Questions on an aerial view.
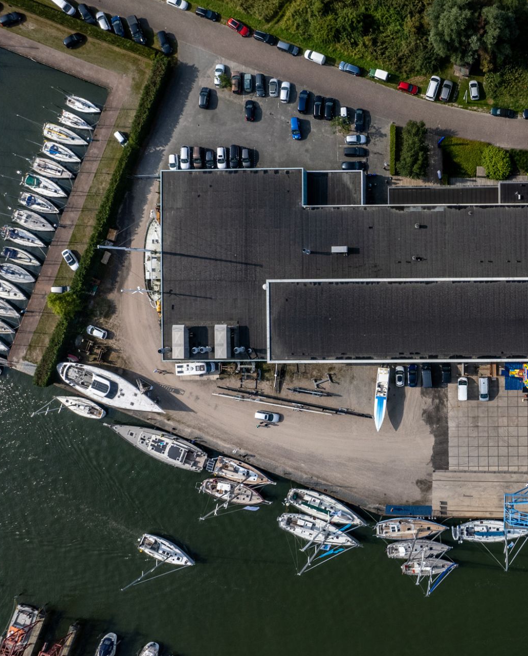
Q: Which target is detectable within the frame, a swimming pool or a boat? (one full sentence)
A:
This aerial view contains a boat.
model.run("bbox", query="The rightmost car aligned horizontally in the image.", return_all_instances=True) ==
[490,106,514,119]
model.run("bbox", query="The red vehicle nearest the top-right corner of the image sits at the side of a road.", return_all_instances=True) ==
[398,82,419,95]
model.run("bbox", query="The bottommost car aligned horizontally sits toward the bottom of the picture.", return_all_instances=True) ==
[255,410,280,423]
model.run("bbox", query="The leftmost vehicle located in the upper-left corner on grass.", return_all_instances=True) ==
[0,11,24,28]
